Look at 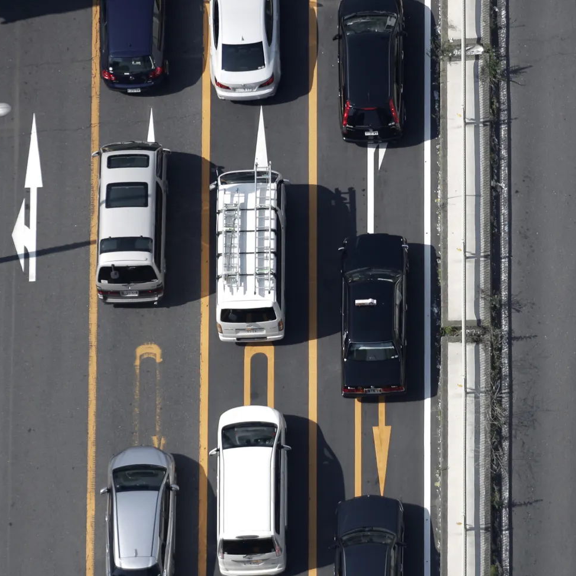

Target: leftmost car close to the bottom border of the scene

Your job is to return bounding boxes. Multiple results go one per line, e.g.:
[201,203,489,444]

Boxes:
[100,447,182,576]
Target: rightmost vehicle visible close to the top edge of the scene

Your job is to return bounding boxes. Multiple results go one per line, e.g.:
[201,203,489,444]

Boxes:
[330,0,410,143]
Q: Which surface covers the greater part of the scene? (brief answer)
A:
paved ground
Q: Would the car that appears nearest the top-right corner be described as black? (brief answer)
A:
Yes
